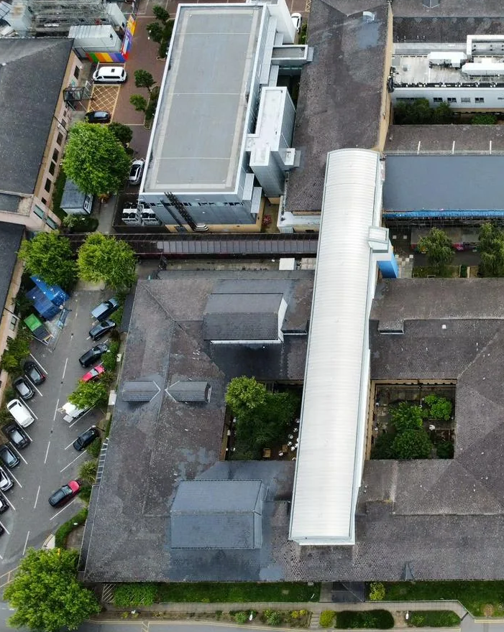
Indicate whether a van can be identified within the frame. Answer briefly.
Yes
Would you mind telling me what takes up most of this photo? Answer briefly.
buildings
